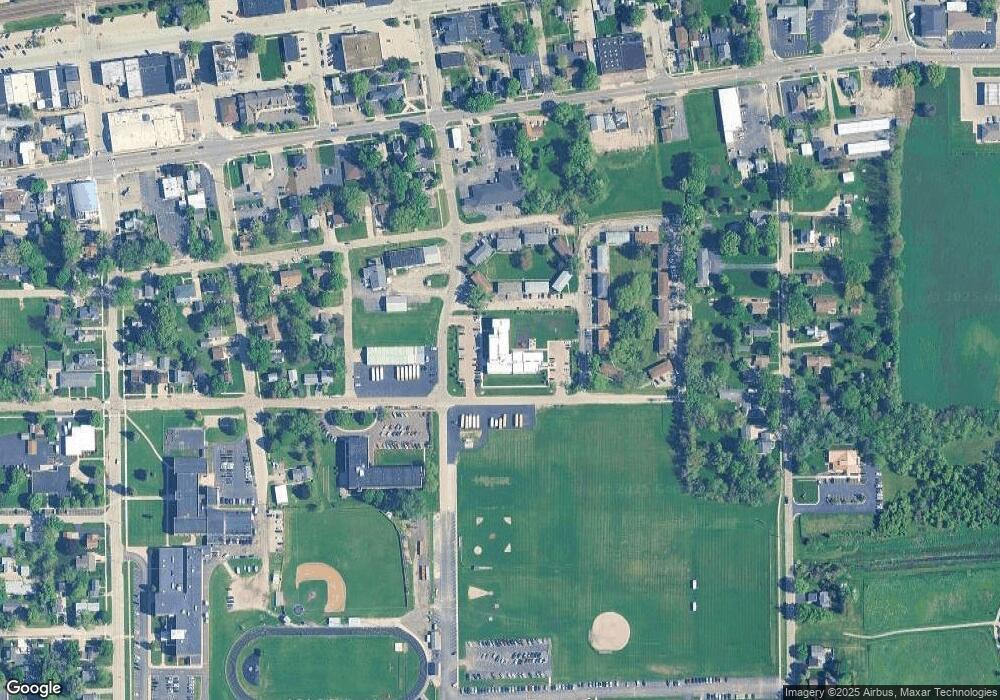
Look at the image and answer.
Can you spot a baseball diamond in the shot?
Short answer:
Yes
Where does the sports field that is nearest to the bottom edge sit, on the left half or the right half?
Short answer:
left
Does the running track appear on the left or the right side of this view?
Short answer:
left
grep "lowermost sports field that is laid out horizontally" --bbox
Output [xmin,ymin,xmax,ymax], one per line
[258,638,394,700]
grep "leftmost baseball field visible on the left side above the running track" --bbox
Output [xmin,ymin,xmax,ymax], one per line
[283,503,405,622]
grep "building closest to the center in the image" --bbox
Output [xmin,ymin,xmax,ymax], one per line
[487,318,543,374]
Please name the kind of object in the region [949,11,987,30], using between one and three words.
house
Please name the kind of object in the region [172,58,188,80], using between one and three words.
building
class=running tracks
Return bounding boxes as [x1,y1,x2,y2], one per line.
[225,627,428,700]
